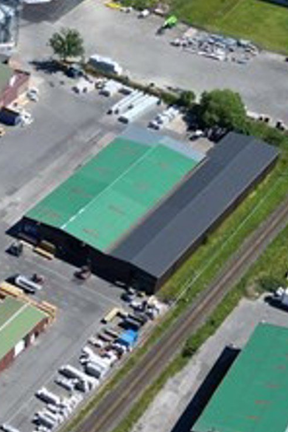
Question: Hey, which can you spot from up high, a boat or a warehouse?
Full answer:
Of the two, only a warehouse appears.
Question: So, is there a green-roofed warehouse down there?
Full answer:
Yes, I can see a green-roofed warehouse in this picture.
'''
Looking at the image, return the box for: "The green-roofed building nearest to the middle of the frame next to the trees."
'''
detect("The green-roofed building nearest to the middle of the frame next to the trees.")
[24,127,202,270]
